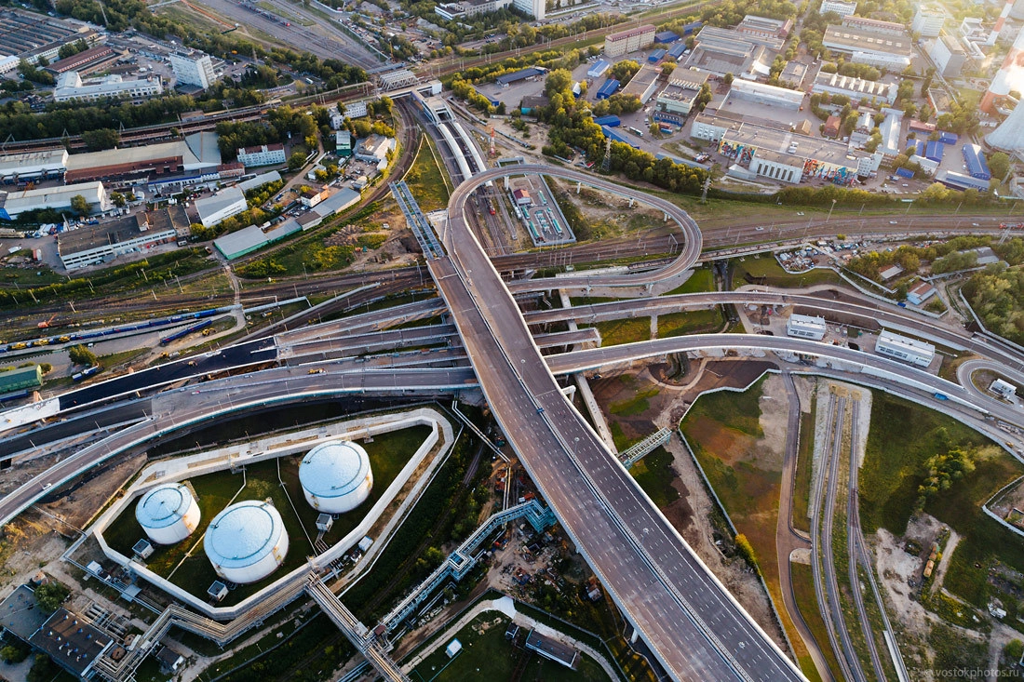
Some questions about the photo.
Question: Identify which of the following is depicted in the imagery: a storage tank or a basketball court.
storage tank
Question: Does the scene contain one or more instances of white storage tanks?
Yes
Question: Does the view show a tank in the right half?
No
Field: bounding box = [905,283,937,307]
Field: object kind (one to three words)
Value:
house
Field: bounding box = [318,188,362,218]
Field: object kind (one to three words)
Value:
shed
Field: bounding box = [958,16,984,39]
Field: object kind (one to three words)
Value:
building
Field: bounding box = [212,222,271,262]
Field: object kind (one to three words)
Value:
shed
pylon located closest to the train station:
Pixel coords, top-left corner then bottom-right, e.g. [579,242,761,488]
[601,133,616,172]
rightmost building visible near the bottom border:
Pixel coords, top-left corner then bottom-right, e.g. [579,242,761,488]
[525,633,577,670]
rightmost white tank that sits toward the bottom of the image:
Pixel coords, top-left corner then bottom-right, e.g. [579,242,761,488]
[300,444,376,520]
